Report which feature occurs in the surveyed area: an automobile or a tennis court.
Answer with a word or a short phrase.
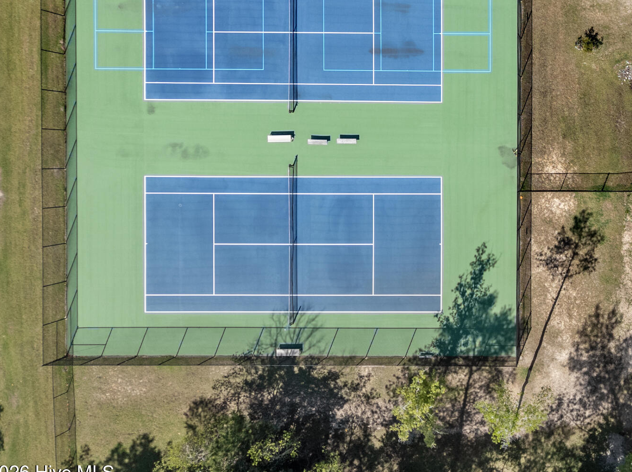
tennis court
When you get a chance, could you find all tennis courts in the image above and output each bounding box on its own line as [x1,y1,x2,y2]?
[66,0,517,139]
[66,139,517,357]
